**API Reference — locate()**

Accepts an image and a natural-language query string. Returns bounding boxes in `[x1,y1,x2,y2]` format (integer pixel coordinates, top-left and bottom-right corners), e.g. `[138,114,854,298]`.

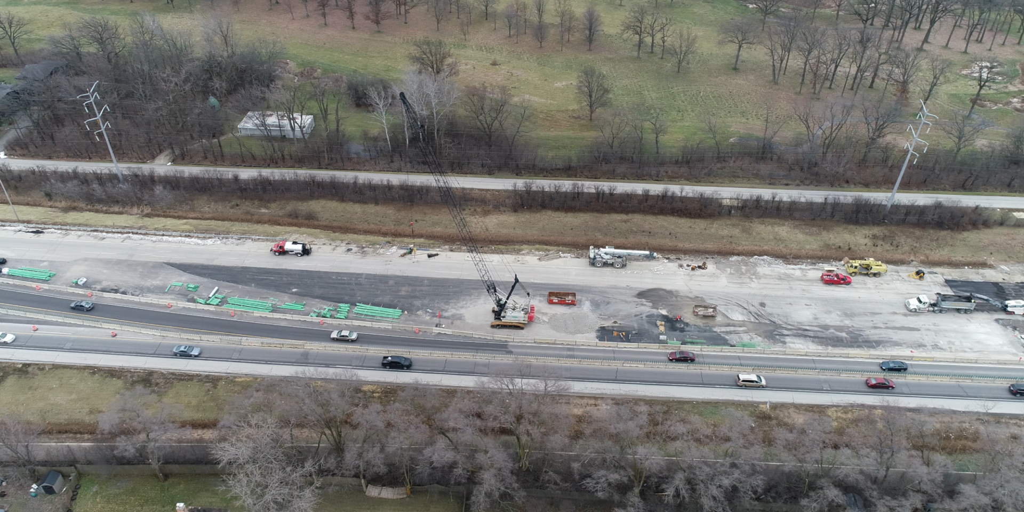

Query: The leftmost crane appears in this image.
[397,92,534,330]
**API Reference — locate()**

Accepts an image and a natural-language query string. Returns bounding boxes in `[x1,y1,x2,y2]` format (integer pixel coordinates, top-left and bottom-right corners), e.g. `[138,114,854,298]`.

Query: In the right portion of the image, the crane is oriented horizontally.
[590,245,650,265]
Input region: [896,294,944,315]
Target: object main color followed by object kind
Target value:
white truck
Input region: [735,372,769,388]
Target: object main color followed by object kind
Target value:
white car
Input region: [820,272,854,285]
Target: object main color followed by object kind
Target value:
red vehicle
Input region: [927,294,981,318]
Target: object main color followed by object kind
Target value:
gray trailer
